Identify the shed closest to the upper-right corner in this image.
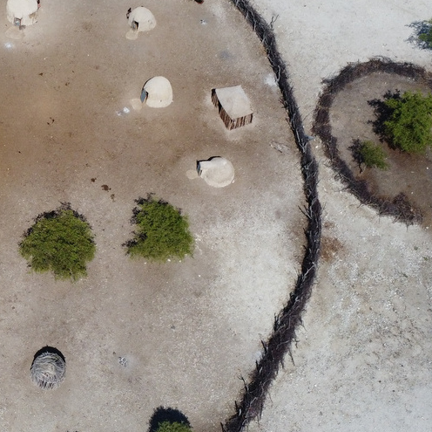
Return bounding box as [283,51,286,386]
[209,86,252,130]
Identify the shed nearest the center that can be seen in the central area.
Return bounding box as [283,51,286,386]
[187,158,236,189]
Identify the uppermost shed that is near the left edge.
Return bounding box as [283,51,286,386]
[4,0,36,36]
